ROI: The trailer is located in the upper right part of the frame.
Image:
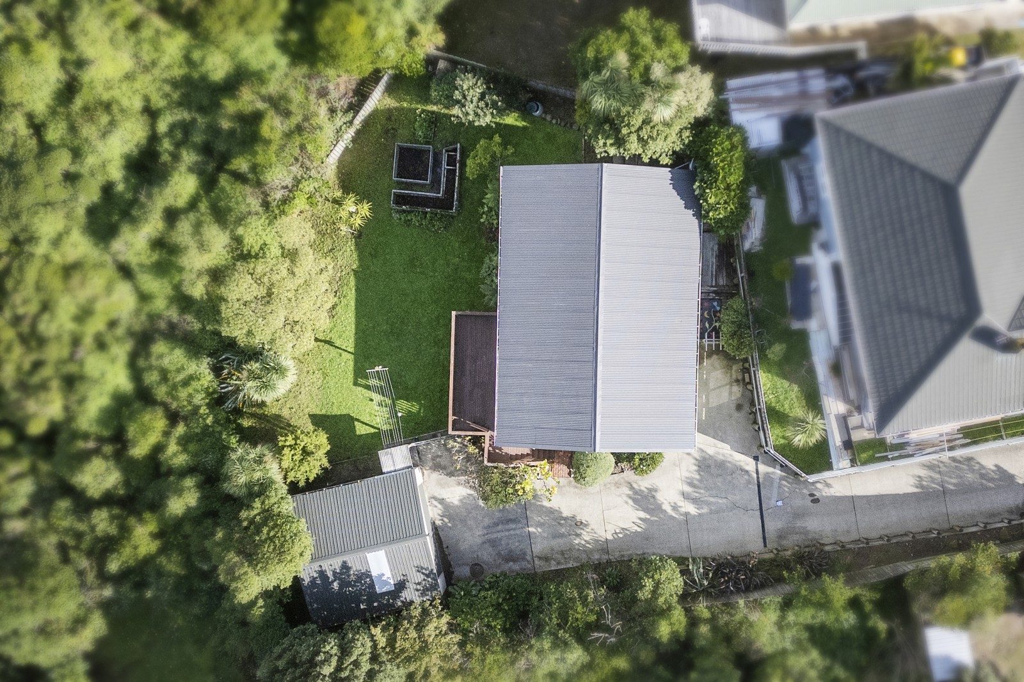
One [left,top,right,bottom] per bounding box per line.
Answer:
[834,50,904,95]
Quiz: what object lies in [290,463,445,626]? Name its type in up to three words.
building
